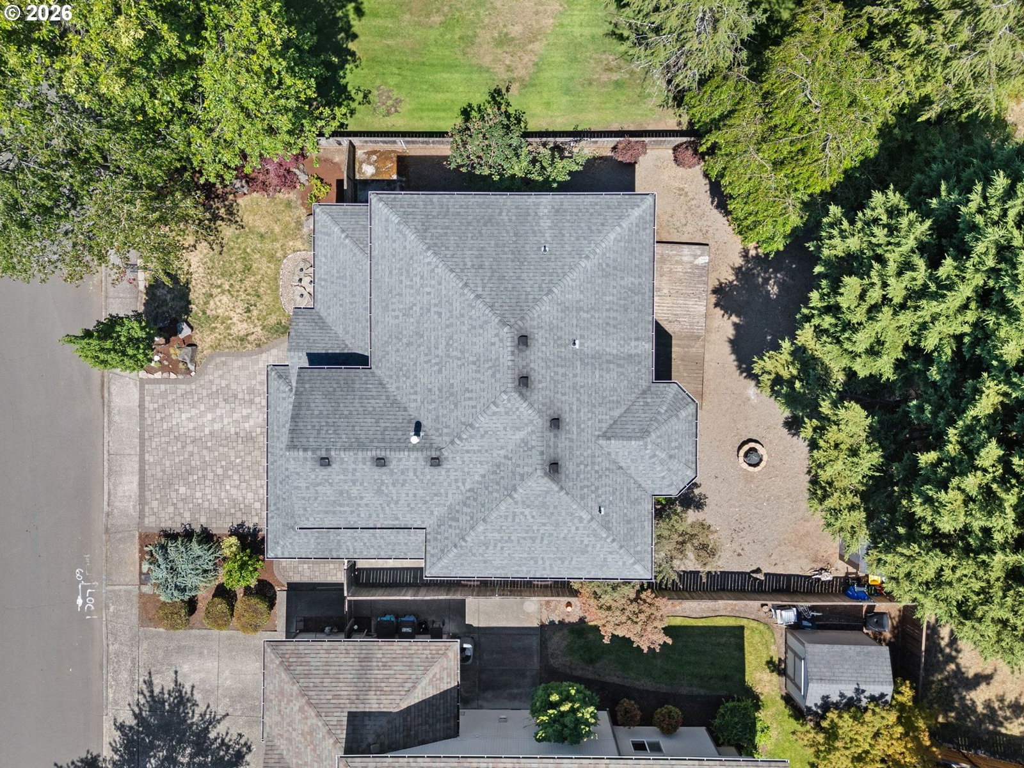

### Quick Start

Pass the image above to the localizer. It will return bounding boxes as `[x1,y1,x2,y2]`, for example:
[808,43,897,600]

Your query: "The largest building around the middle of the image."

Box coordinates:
[267,192,697,580]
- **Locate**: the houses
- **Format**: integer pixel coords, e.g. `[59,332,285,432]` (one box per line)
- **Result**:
[267,192,697,580]
[263,626,786,768]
